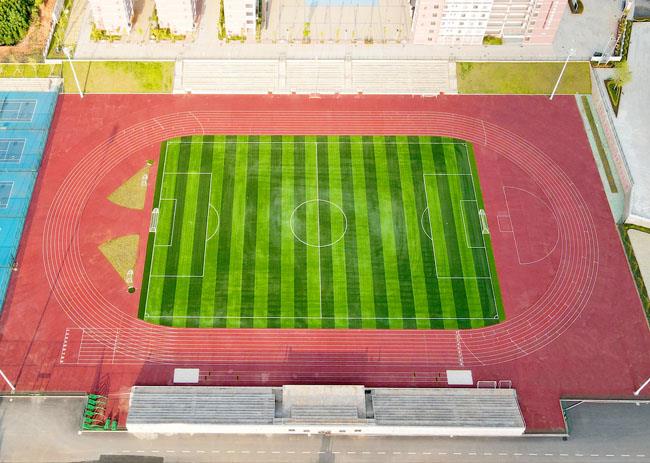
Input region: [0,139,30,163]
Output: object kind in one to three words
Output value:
tennis court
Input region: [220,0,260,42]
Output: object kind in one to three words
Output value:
building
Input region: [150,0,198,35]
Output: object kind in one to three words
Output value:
building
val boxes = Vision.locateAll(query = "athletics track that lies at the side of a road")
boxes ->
[0,93,650,434]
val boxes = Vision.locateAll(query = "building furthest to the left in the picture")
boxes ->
[83,0,136,34]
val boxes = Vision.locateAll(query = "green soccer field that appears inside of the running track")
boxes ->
[138,135,506,330]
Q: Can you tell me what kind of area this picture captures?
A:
sports ground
